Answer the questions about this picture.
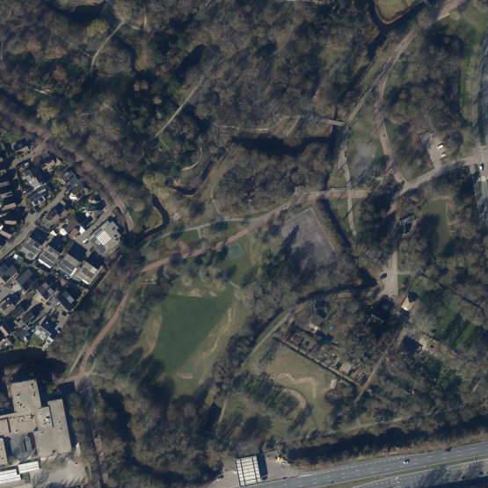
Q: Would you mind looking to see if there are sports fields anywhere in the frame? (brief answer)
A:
Yes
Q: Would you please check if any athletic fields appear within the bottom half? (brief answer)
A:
Yes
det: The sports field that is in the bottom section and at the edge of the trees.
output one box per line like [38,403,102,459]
[155,290,236,373]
